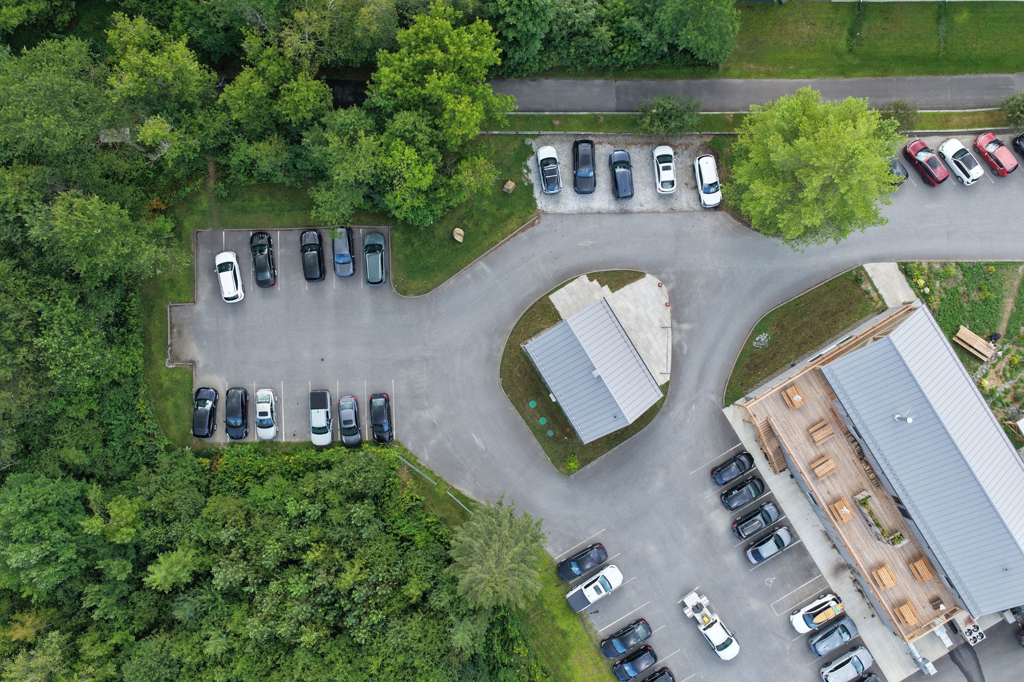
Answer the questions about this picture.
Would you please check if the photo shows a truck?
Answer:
Yes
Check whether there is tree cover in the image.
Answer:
Yes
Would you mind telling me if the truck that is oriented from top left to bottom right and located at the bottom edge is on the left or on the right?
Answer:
right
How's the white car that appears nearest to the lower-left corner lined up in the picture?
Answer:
vertically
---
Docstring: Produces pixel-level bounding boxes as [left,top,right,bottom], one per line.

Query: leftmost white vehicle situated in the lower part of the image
[252,388,278,439]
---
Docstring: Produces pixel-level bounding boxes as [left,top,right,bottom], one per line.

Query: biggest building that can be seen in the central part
[523,296,665,446]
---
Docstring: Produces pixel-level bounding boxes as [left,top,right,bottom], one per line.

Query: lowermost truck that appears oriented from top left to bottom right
[681,589,742,662]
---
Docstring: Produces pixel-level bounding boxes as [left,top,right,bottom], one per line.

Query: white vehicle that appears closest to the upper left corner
[214,251,246,304]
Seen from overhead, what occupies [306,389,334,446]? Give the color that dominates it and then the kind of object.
white vehicle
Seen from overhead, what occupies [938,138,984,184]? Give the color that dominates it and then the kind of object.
white car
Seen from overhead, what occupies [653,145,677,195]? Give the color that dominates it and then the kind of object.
white car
